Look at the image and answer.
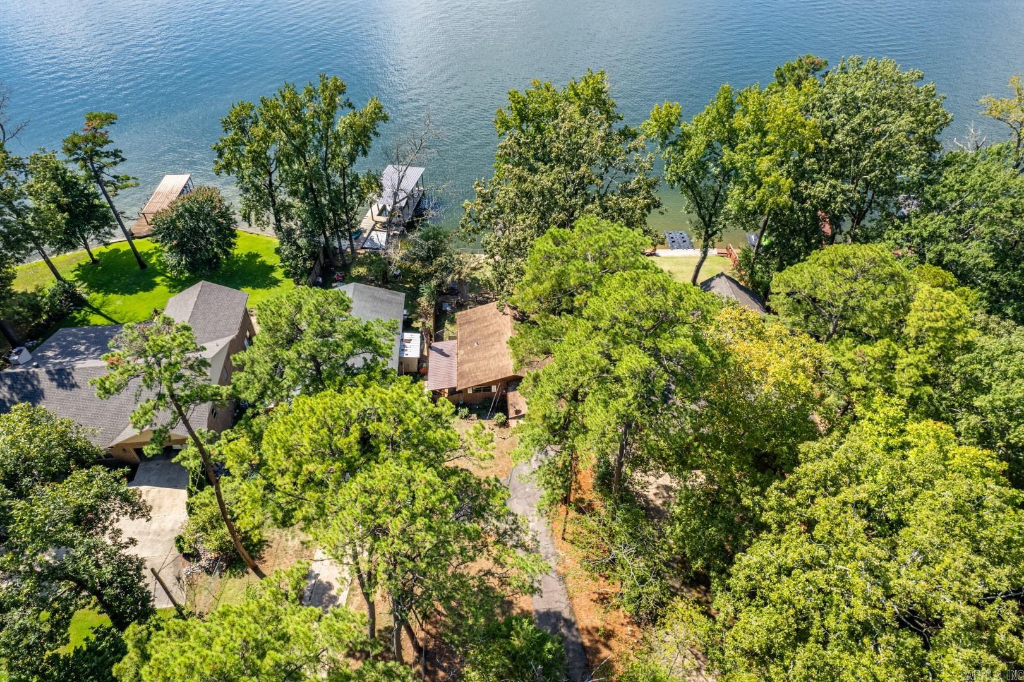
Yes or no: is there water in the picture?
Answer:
Yes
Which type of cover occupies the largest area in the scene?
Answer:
trees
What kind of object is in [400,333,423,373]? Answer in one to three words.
shed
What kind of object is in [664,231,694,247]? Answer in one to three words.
pier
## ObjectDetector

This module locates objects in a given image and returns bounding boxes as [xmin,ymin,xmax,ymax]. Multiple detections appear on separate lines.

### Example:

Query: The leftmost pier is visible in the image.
[131,175,198,236]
